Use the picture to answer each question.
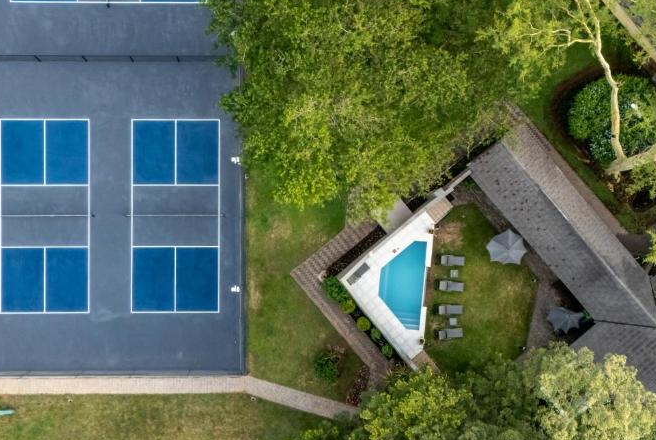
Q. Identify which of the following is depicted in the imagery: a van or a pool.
pool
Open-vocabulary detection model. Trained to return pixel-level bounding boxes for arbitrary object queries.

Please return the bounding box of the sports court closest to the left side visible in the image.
[0,119,90,314]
